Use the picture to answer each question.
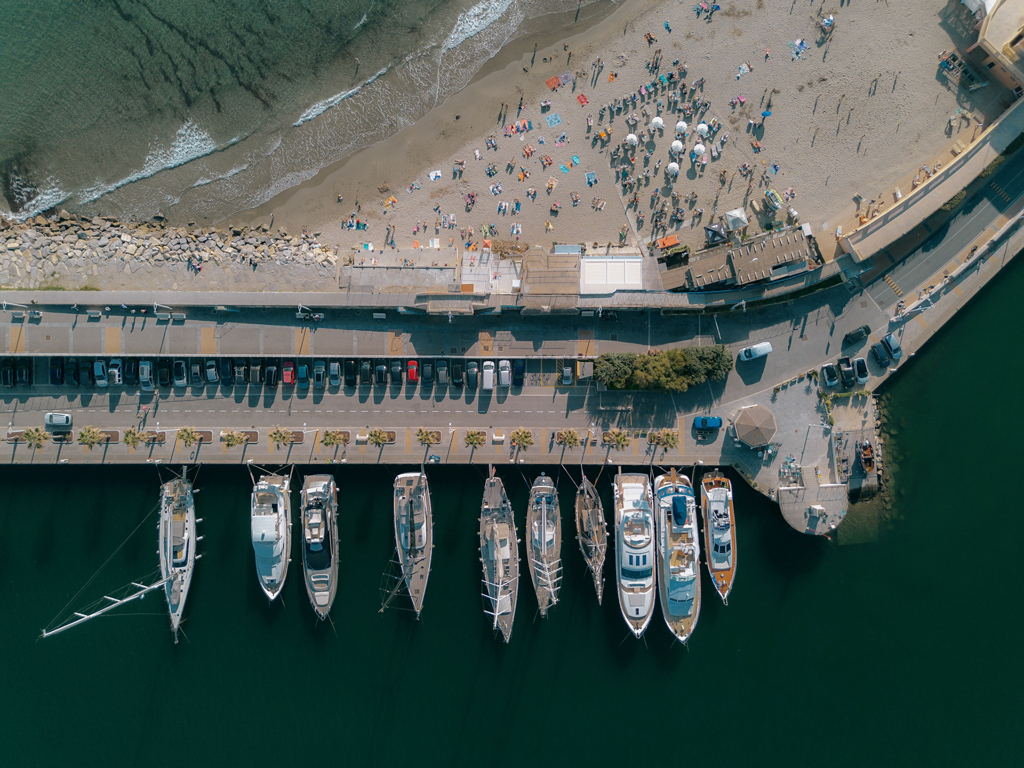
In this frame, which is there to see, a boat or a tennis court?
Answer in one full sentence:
There is a boat in the scene.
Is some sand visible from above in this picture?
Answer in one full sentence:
Yes, there's sand in this view.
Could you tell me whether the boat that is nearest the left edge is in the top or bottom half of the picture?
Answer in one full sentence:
You can find the boat that is nearest the left edge in the bottom half.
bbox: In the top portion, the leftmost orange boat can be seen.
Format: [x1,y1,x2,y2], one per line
[655,235,681,249]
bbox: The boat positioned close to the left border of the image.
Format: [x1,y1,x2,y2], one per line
[40,463,201,644]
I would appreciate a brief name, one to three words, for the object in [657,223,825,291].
building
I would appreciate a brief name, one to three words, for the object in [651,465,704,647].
boat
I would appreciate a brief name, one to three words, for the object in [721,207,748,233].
tent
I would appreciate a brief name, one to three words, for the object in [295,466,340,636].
boat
